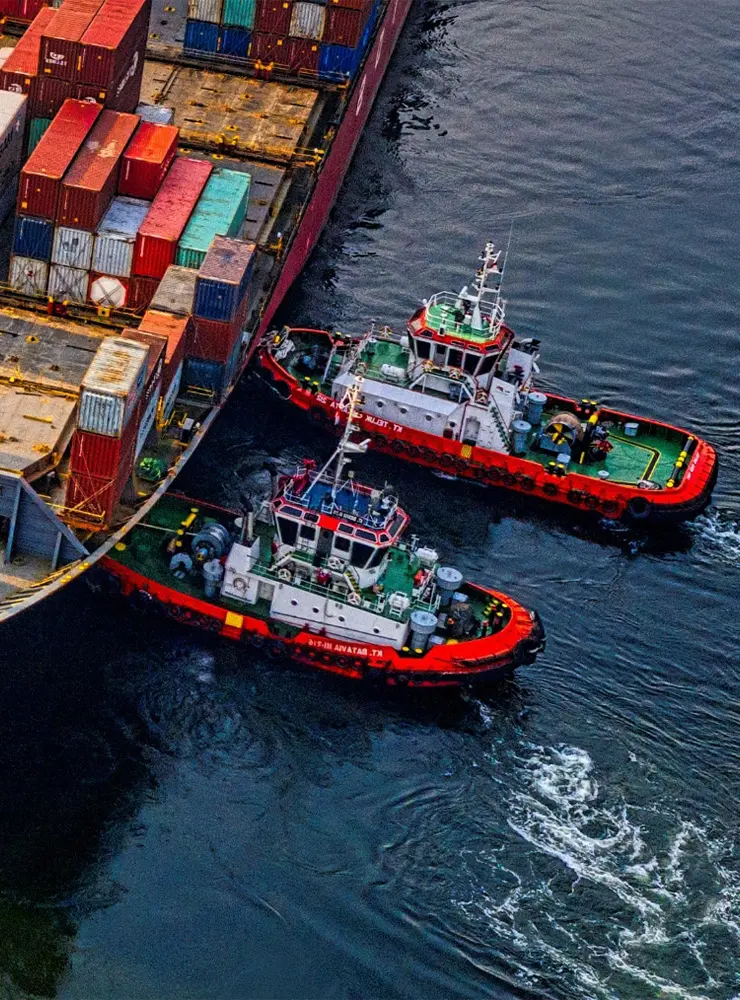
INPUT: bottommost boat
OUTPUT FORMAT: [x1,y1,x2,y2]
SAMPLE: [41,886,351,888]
[91,372,538,695]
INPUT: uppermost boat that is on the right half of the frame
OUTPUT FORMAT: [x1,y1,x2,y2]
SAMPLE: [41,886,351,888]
[254,213,719,521]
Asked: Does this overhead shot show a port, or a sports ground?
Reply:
port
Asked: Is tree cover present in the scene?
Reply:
No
